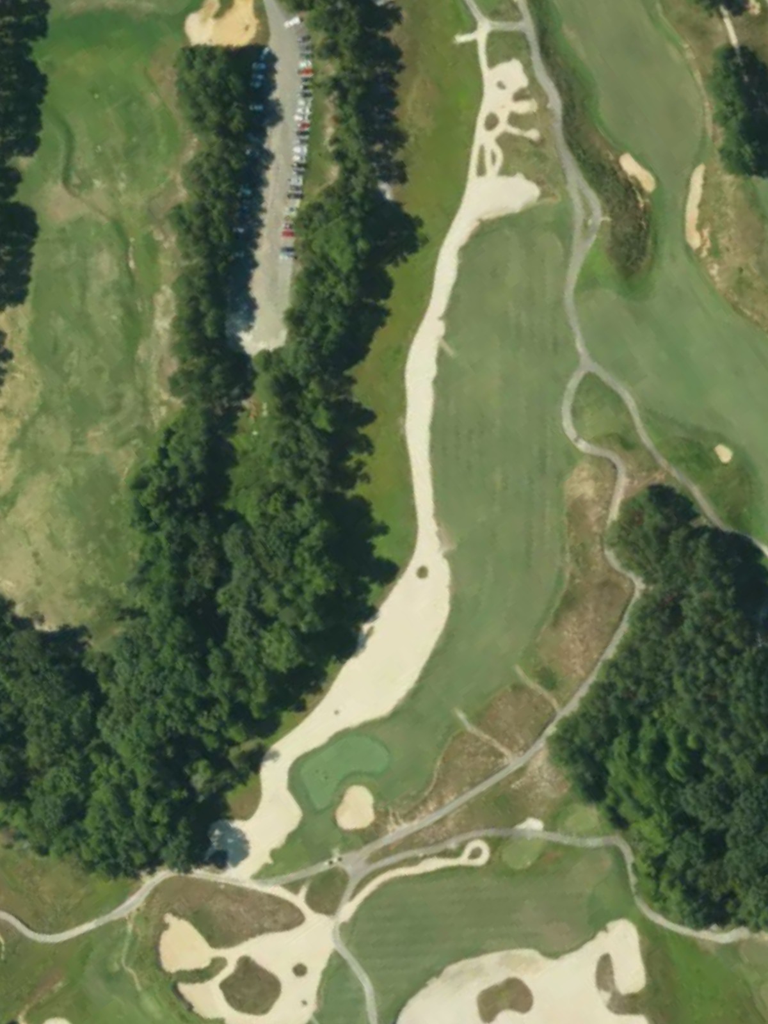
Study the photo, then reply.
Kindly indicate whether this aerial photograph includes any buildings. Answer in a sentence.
No, this view has no building in it.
